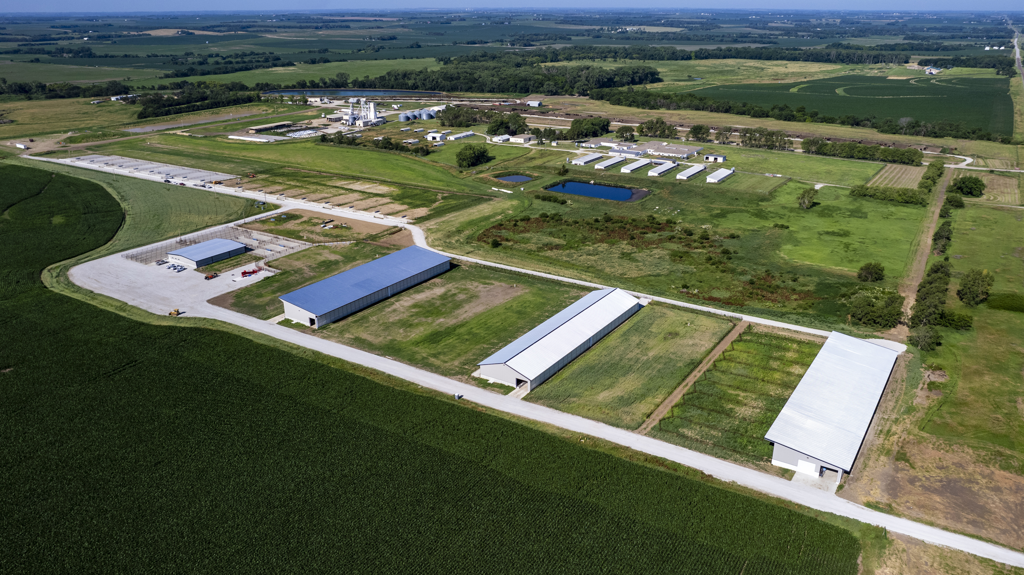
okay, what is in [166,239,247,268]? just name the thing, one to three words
barn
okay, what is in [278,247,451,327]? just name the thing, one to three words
barn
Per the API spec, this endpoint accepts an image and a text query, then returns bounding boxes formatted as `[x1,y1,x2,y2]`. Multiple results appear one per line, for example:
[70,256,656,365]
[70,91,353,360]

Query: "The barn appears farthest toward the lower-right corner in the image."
[765,327,901,484]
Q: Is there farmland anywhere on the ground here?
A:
Yes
